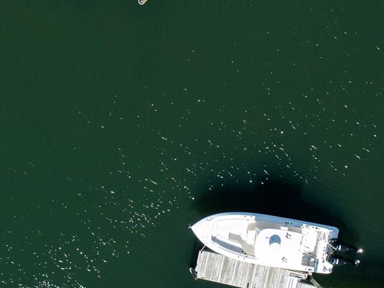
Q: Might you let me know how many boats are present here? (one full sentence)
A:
In total, there is 1 boat in the scene.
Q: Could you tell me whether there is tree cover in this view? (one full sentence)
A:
No, there's no tree cover in this view.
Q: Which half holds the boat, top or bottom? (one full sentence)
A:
The boat sits in the bottom half of the picture.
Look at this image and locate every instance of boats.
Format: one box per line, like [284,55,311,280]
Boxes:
[188,212,360,273]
